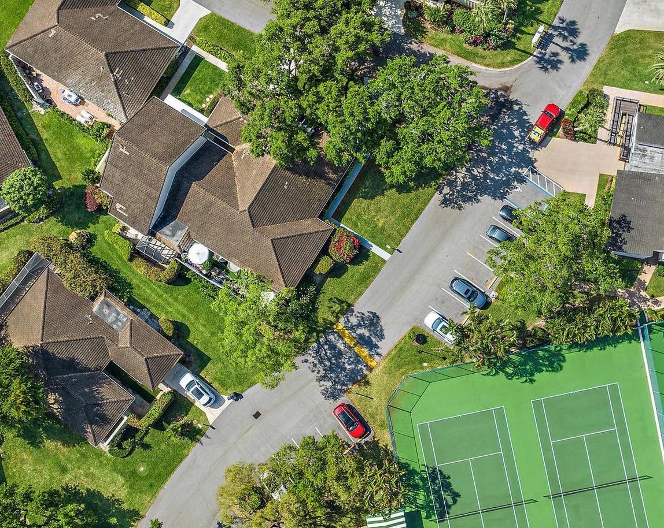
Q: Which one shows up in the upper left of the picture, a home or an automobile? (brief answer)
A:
home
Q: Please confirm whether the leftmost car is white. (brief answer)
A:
Yes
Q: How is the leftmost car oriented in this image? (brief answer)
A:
on a diagonal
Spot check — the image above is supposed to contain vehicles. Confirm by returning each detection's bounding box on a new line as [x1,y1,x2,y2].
[526,101,563,146]
[178,374,215,405]
[422,312,459,345]
[449,278,488,308]
[496,203,532,232]
[483,223,522,249]
[332,402,366,440]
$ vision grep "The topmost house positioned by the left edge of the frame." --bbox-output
[4,0,181,123]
